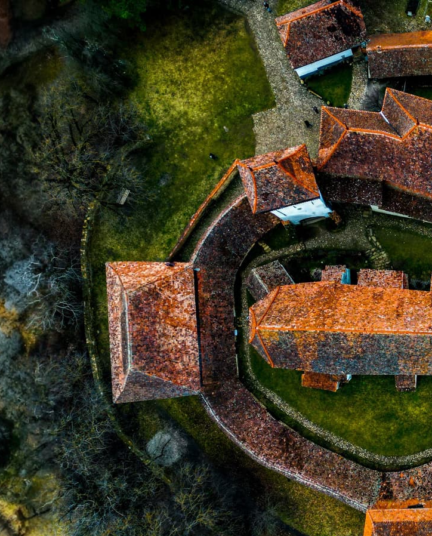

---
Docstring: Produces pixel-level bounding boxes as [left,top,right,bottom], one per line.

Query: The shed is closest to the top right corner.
[367,31,432,85]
